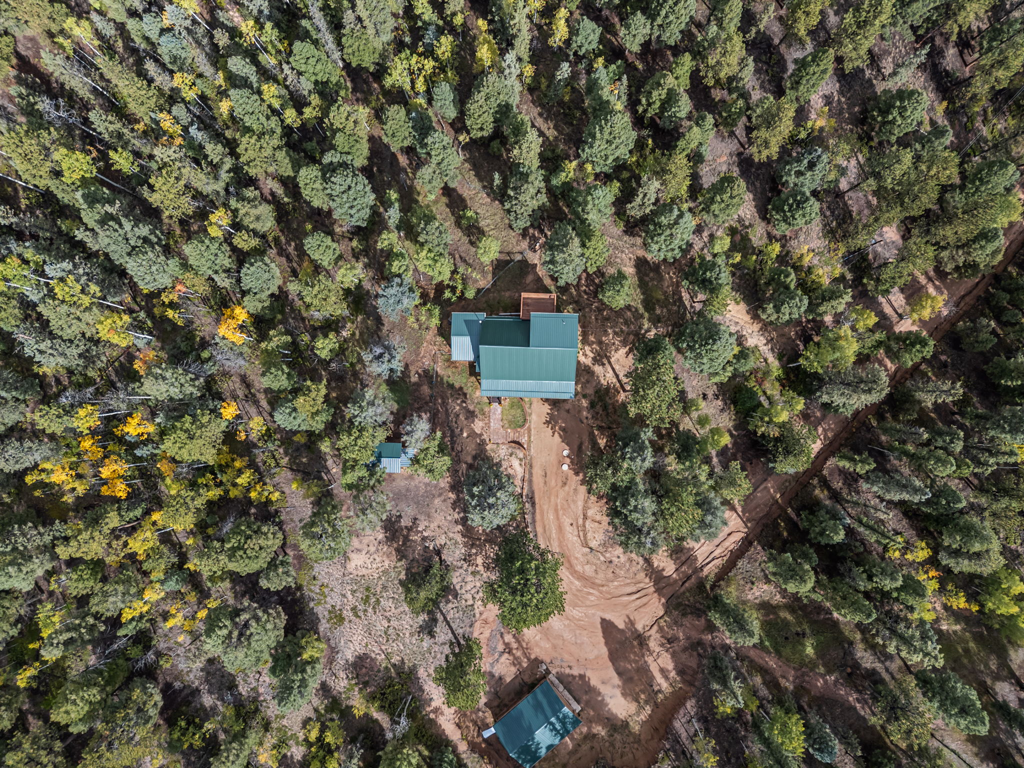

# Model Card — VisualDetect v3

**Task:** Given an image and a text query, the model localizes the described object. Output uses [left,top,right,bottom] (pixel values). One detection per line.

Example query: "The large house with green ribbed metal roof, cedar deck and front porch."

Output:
[451,293,579,400]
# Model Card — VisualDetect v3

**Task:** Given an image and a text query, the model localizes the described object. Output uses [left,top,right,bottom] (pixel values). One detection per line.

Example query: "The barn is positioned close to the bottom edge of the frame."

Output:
[482,674,583,768]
